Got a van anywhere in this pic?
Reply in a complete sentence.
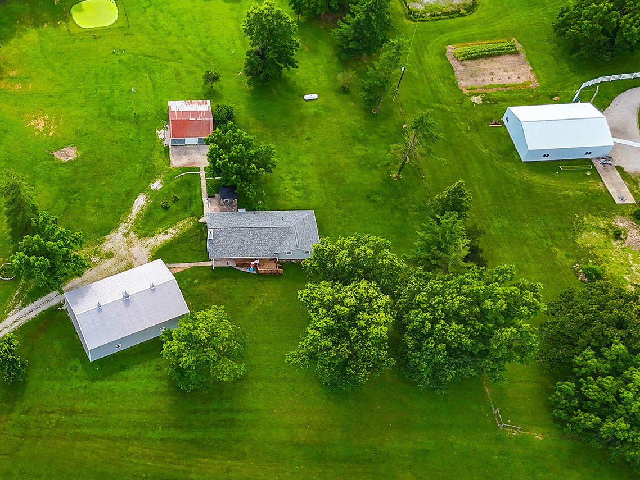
No, the frame has no van in it.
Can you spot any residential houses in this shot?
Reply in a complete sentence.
Yes, there's a residential house here.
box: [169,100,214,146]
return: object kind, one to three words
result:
building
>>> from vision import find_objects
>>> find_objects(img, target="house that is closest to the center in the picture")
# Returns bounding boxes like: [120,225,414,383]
[206,211,321,272]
